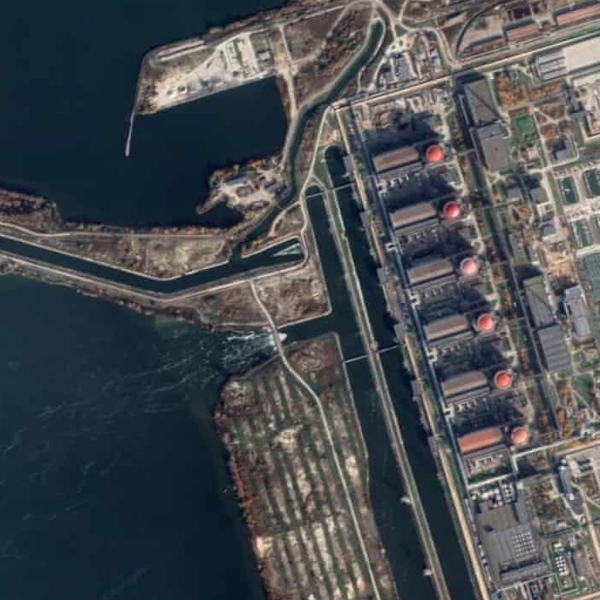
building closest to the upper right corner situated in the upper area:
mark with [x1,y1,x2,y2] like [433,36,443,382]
[556,4,600,25]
